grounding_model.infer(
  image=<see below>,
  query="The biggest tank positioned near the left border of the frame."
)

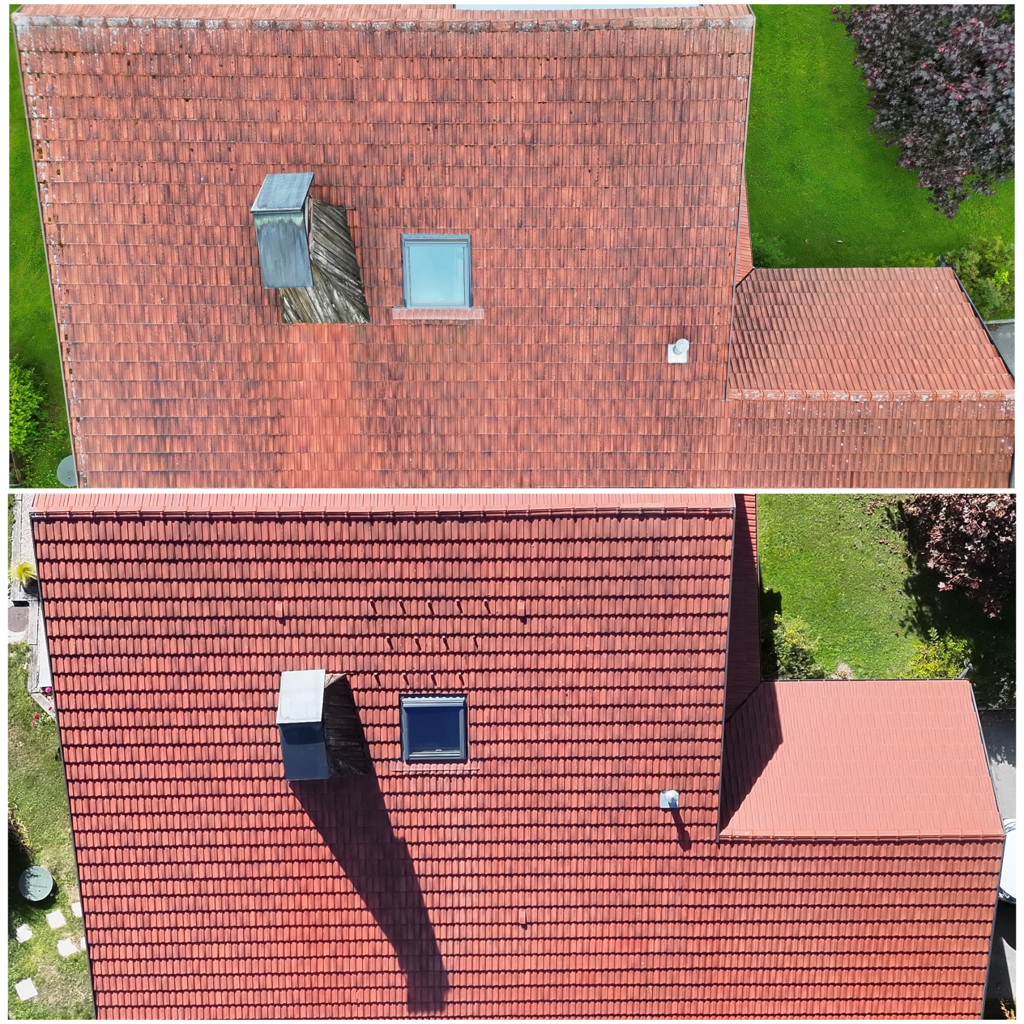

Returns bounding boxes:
[19,866,61,904]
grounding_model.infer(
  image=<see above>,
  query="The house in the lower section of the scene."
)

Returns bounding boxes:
[28,494,1015,1024]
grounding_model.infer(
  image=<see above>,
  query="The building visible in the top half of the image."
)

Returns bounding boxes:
[9,0,1024,499]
